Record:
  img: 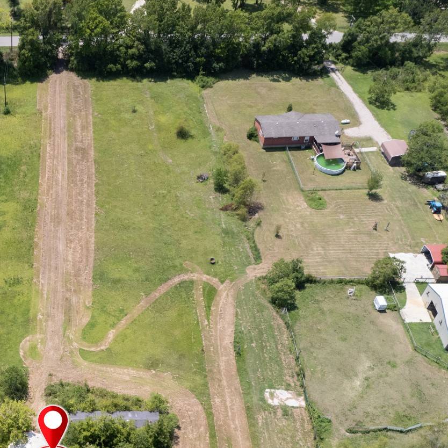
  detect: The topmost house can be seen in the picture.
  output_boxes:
[257,104,343,150]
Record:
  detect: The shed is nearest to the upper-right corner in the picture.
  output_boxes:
[377,136,411,167]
